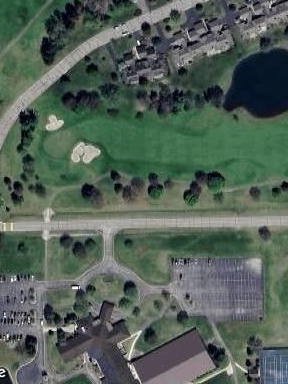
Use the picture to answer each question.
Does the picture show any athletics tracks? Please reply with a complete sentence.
No, there is no athletics track in the image.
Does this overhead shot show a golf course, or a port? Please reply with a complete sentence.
It's a golf course.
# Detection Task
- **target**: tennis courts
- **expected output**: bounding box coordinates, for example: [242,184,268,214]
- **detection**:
[260,349,279,384]
[279,349,288,384]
